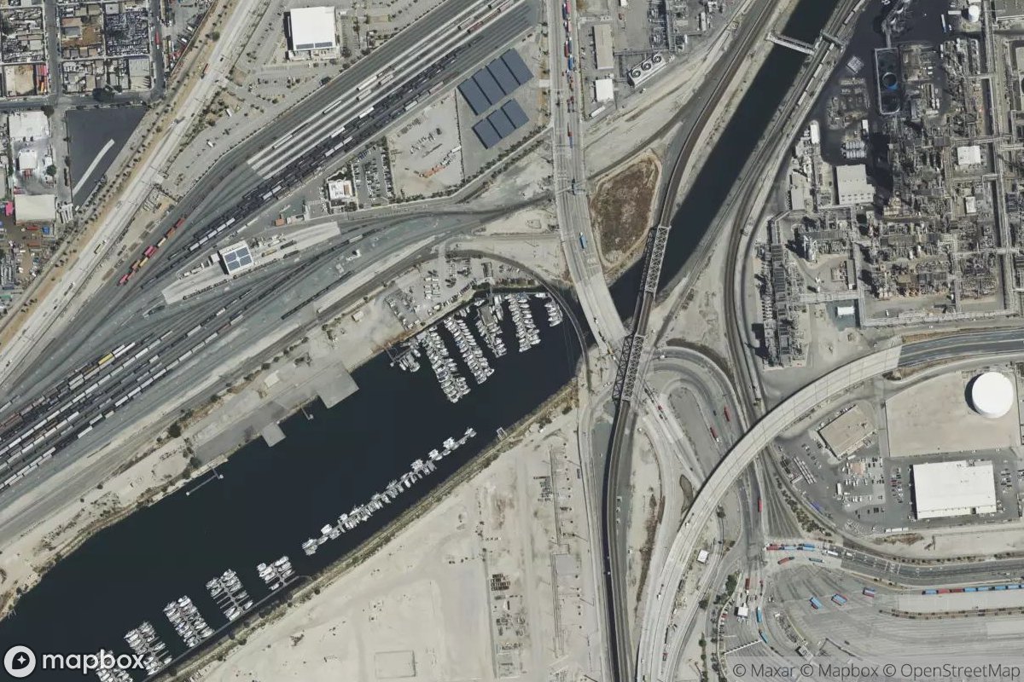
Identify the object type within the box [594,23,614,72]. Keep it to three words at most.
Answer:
building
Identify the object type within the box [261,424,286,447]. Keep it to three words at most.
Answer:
pier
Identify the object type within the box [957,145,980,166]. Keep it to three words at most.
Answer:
building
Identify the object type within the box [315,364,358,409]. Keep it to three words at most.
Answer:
pier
